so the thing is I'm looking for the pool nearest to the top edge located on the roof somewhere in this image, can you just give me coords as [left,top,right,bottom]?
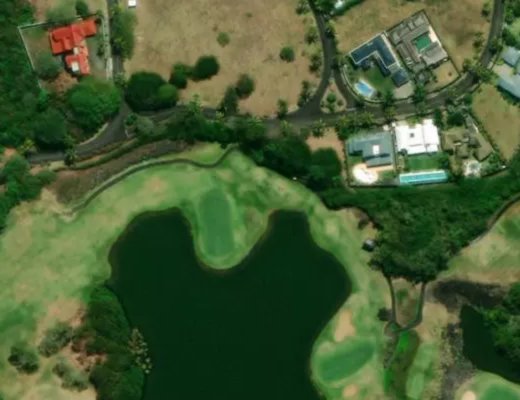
[413,32,432,51]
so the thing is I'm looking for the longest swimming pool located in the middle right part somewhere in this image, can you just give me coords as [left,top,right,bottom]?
[400,170,447,185]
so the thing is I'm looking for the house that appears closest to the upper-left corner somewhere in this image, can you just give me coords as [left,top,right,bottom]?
[48,18,98,75]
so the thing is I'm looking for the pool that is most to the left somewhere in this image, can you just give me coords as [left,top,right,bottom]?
[351,80,375,97]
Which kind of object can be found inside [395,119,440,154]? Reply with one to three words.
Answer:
house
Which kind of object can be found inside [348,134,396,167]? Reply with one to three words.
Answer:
house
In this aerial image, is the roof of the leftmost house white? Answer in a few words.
No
